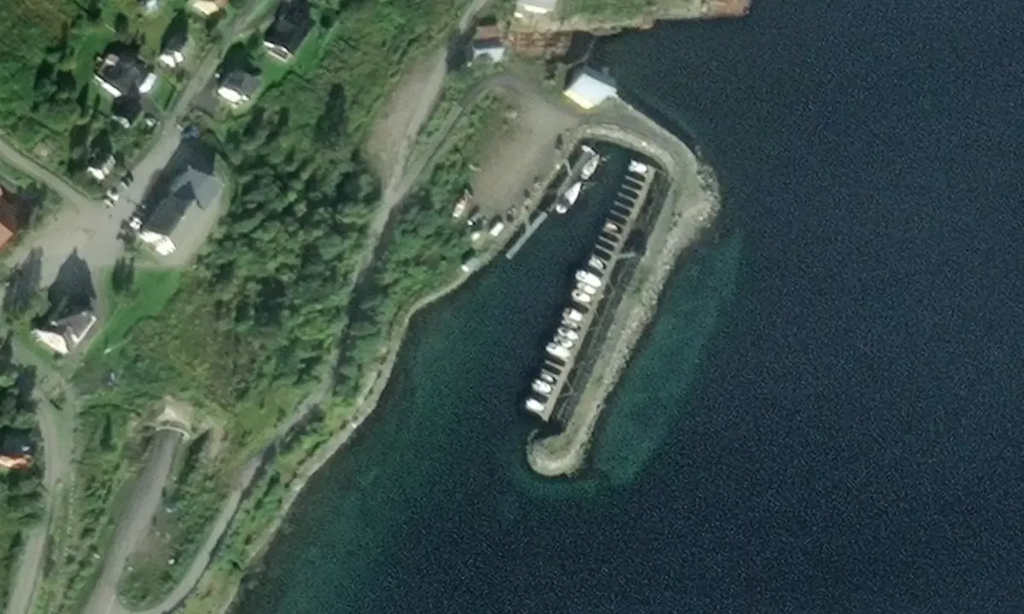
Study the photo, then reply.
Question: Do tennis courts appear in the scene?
No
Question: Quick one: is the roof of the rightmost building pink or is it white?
white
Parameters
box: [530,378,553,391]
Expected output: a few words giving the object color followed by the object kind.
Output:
white boat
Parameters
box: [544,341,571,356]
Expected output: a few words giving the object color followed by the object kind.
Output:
white boat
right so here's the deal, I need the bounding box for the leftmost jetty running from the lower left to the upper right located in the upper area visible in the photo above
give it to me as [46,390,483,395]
[507,212,547,259]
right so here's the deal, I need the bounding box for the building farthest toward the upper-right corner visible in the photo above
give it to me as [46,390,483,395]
[564,65,612,113]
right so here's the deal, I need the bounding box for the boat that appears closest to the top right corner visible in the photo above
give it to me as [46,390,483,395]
[628,159,649,173]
